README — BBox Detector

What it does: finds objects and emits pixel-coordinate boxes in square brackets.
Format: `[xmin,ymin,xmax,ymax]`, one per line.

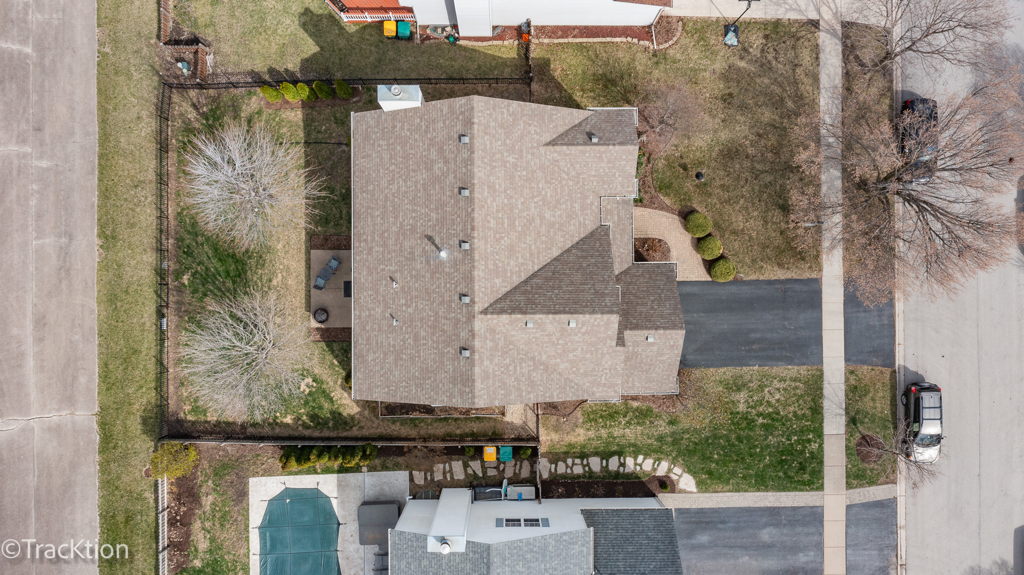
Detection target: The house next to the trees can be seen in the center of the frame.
[349,84,686,408]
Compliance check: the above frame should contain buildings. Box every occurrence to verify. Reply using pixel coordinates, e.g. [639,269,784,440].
[398,0,673,46]
[386,488,683,575]
[349,84,686,408]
